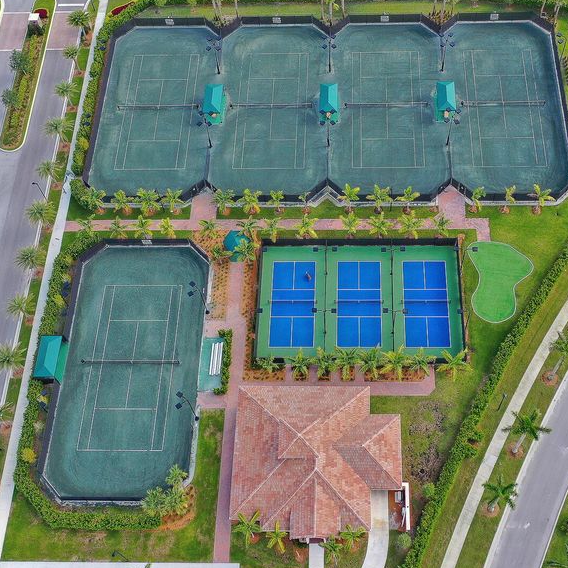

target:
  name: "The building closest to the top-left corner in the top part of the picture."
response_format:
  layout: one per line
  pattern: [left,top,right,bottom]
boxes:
[203,84,227,124]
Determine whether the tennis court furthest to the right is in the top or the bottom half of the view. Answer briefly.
top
